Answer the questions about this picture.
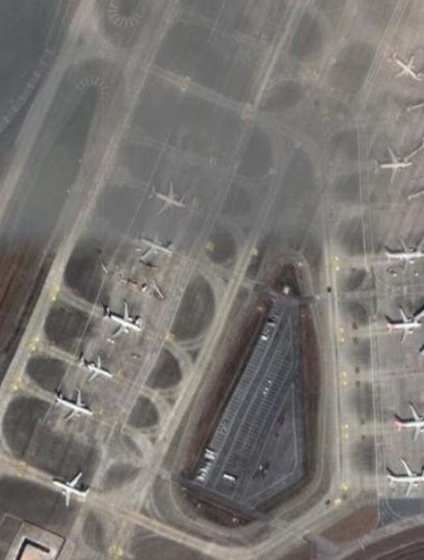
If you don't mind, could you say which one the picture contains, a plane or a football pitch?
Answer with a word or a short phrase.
plane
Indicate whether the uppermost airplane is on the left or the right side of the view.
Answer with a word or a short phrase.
right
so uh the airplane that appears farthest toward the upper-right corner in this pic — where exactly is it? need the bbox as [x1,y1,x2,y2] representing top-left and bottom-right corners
[391,52,419,80]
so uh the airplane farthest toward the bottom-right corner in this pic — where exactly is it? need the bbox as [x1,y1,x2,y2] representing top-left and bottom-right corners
[388,458,424,495]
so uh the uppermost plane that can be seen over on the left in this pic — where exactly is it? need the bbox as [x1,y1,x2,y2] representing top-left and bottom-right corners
[148,181,185,214]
